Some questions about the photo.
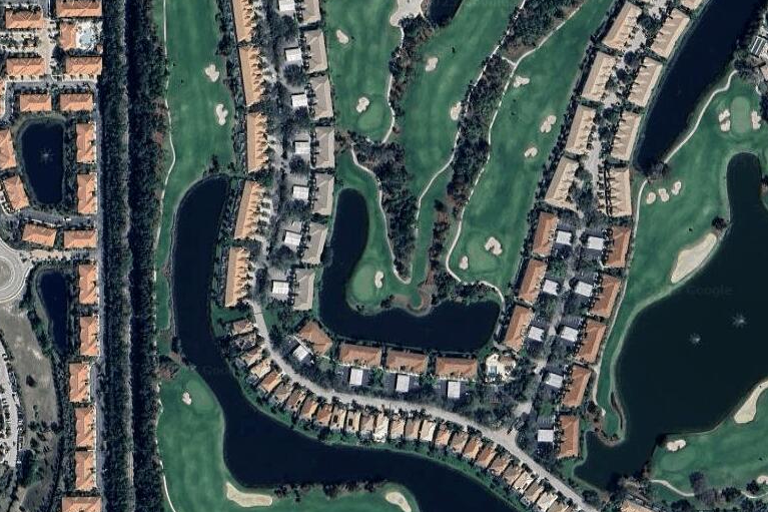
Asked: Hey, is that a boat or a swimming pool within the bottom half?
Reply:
swimming pool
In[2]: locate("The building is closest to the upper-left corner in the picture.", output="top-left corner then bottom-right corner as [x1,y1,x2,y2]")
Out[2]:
[6,10,43,29]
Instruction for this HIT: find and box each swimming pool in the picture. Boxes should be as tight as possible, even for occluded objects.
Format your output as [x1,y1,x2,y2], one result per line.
[76,20,103,51]
[486,355,517,380]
